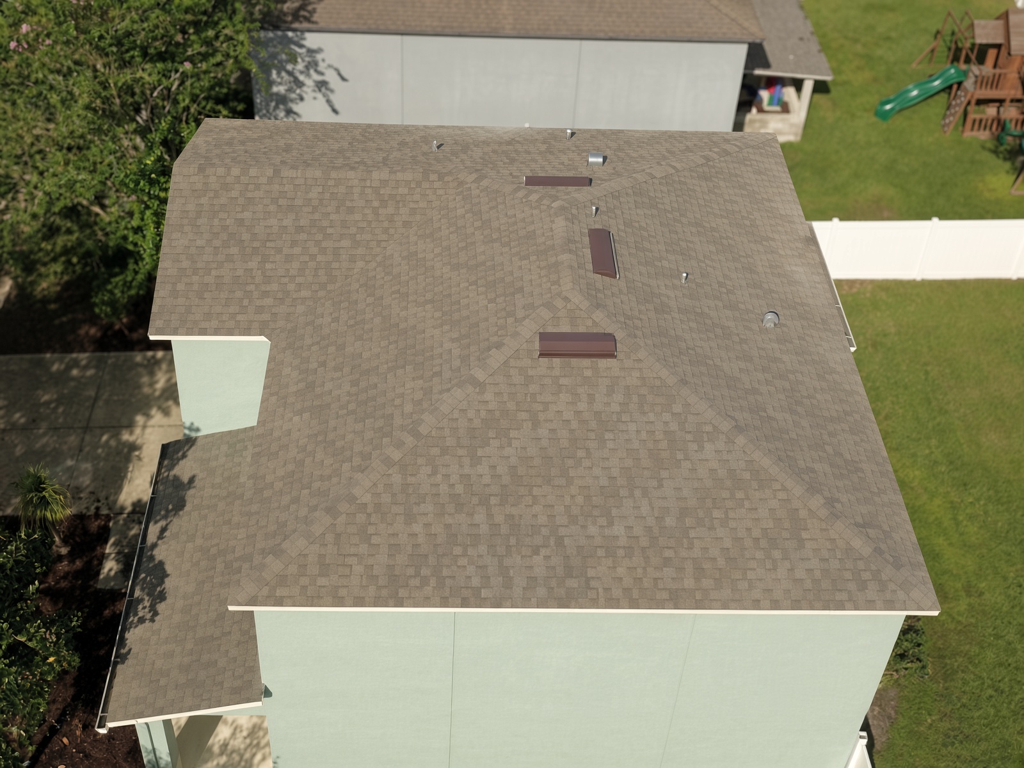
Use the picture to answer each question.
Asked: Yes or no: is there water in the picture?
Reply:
No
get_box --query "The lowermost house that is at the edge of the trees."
[93,116,940,768]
